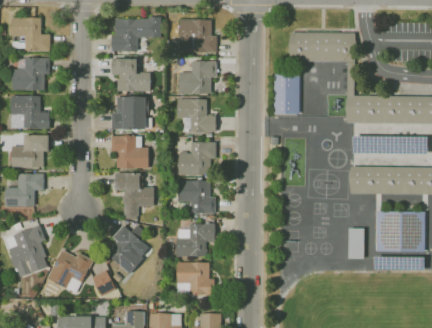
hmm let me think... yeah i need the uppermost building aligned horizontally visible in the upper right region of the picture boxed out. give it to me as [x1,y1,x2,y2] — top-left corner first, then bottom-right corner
[290,32,356,62]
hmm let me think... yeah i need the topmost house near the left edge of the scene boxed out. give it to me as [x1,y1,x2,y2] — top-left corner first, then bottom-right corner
[9,18,49,52]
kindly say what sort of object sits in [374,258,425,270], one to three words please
solar array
